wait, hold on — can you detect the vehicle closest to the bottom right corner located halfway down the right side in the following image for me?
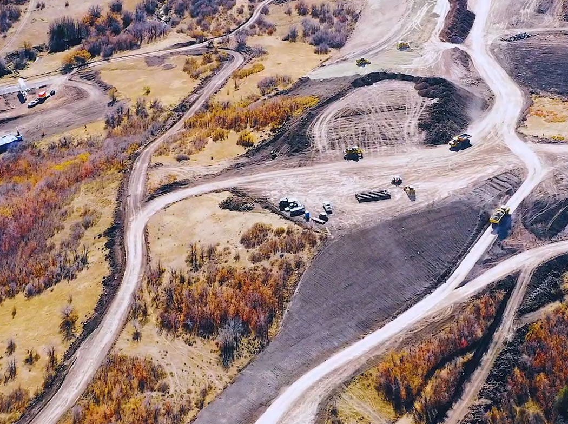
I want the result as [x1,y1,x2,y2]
[490,205,512,225]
